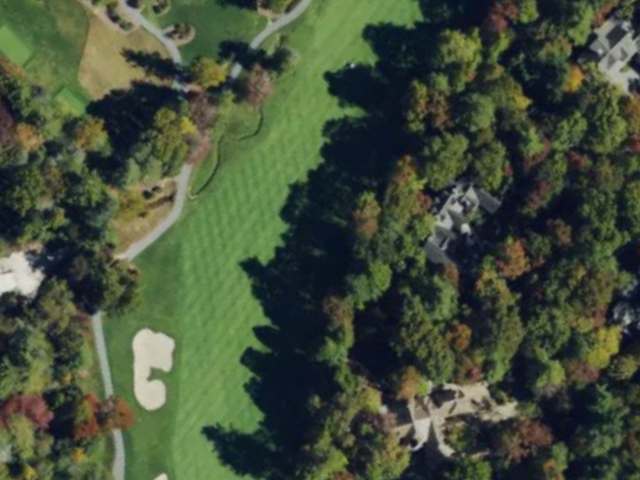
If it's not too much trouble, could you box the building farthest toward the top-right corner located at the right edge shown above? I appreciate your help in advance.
[585,17,640,75]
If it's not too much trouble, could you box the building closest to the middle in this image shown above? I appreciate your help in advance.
[422,182,502,267]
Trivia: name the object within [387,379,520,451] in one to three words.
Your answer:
house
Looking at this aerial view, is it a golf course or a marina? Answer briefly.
golf course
